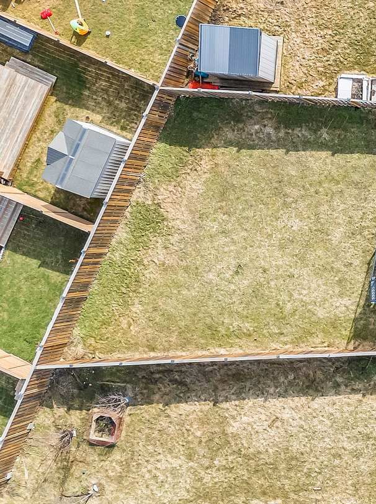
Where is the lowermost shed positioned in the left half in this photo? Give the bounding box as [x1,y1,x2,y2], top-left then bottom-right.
[38,121,135,197]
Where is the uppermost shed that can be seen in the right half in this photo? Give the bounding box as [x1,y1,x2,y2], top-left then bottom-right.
[198,23,284,90]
